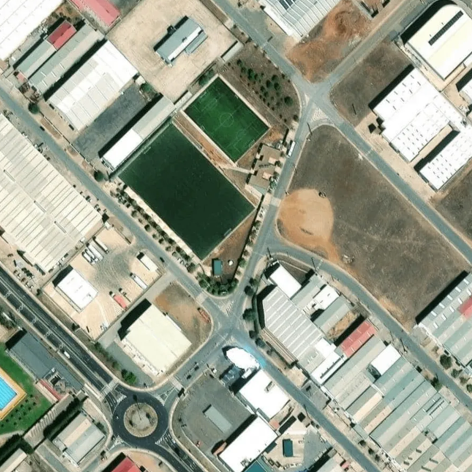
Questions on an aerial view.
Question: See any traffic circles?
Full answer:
Yes, a traffic circle appears in the view.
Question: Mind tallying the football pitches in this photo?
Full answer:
My tally gives 2 football pitches in this view.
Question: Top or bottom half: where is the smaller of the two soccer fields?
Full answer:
Seen from above, the smaller of the two soccer fields lies in the top half of the view.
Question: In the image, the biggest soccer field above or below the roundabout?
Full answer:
The biggest soccer field is found above the roundabout in the photo.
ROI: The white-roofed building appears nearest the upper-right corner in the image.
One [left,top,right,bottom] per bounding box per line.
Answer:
[404,5,472,80]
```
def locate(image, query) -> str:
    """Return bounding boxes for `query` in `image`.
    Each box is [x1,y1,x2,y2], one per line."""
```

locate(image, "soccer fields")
[179,73,273,165]
[111,119,260,266]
